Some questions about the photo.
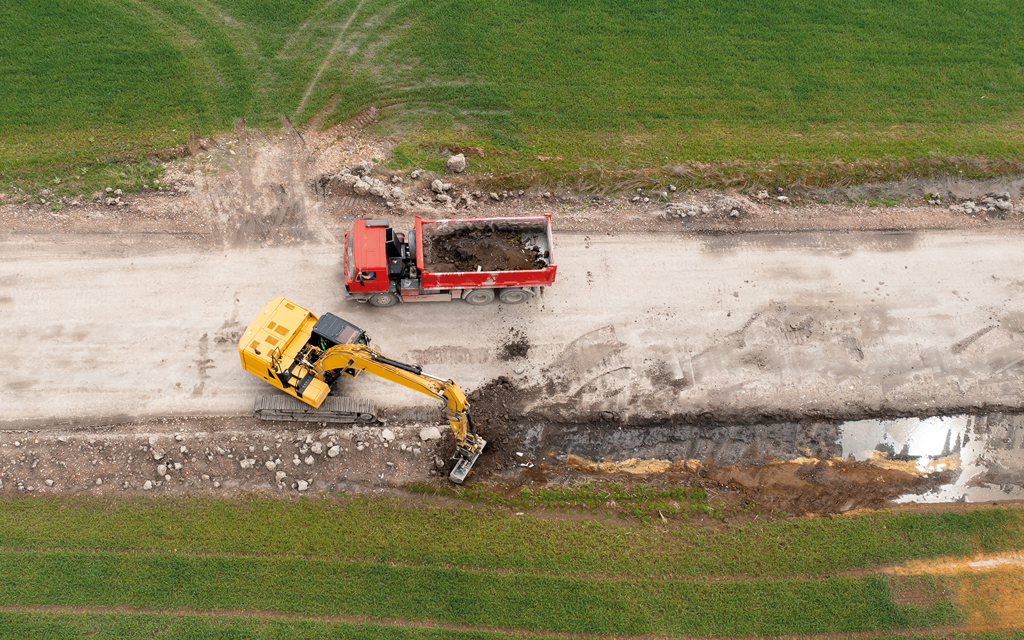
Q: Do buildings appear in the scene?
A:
No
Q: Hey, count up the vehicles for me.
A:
2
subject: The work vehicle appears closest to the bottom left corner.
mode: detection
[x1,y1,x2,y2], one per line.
[237,299,490,481]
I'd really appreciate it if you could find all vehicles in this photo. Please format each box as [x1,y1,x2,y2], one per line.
[343,212,557,306]
[237,299,490,481]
